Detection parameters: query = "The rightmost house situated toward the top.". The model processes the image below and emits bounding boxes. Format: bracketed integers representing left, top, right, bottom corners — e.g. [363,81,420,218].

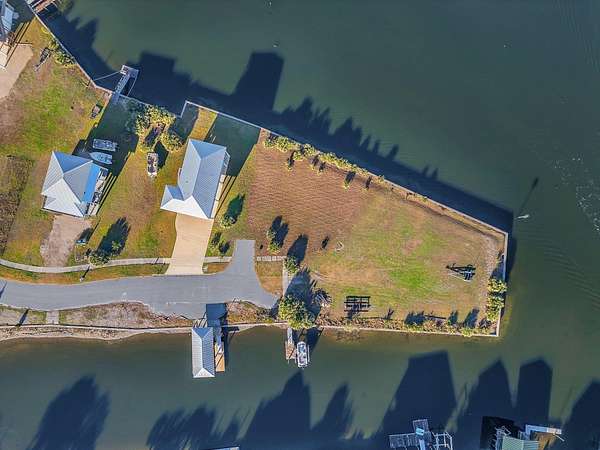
[159,139,236,219]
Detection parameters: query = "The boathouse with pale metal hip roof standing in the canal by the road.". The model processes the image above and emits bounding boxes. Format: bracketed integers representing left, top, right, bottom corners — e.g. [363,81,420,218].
[192,327,216,378]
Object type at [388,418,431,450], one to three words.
pier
